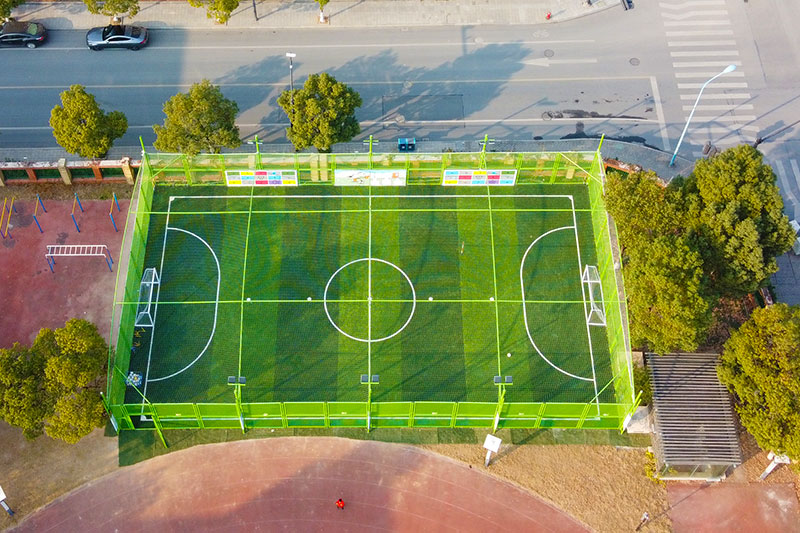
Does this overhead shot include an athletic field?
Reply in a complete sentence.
Yes, an athletic field can be made out from above.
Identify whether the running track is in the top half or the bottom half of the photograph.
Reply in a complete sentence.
The running track is in the bottom half of the image.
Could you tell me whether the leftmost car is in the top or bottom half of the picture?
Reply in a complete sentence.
It is in the top half that the leftmost car appears.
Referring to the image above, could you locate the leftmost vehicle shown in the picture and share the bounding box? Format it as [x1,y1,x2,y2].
[0,21,48,48]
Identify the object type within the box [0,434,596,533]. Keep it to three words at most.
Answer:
running track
